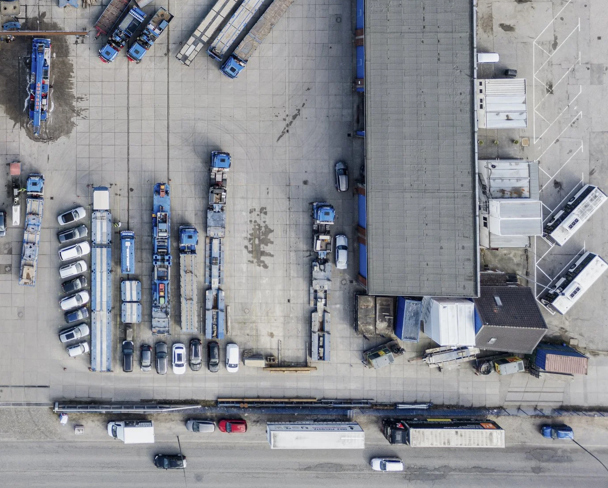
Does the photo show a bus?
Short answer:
Yes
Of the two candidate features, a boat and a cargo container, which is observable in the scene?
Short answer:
cargo container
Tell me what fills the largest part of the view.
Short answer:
paved ground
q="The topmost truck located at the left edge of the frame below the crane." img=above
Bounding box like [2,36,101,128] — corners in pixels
[25,170,46,207]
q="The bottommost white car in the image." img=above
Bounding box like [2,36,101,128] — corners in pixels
[369,456,403,472]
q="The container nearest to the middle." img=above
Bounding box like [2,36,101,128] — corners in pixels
[395,296,422,341]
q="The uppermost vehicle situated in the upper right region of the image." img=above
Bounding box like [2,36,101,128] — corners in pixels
[479,51,501,65]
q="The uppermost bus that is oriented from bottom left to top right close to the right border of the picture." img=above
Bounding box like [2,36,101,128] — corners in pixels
[541,183,607,249]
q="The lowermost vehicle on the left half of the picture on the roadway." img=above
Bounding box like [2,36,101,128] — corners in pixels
[154,454,186,469]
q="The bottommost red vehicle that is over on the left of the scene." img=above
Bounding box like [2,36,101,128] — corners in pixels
[218,418,247,433]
